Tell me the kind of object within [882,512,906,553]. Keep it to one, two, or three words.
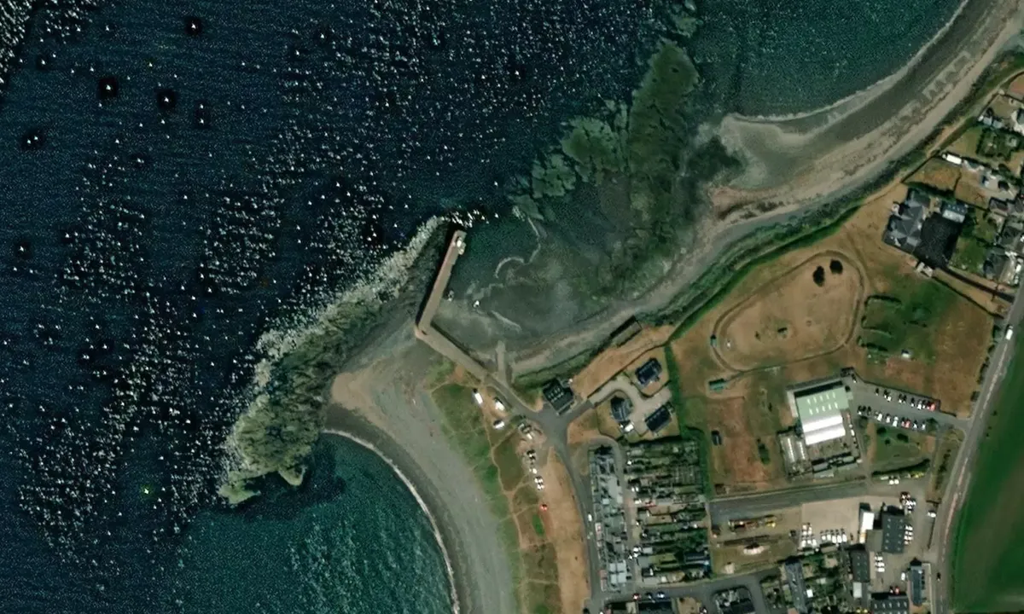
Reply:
building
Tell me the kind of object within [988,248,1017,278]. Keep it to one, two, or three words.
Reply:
house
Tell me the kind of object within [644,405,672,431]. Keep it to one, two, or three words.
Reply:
house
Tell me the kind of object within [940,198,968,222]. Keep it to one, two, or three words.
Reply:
shed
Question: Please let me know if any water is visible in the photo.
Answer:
Yes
